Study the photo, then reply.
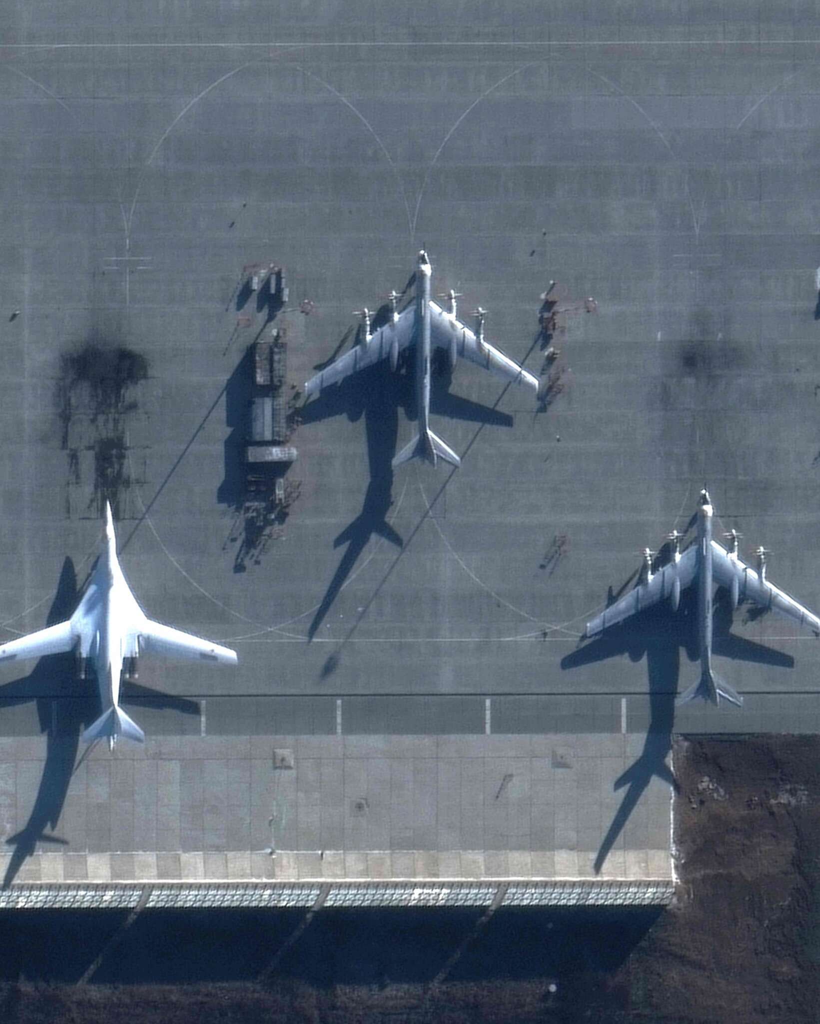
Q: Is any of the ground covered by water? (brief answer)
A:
No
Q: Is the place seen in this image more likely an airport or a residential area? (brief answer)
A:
airport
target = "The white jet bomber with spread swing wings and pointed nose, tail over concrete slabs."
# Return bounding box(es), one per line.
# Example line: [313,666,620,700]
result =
[0,500,237,750]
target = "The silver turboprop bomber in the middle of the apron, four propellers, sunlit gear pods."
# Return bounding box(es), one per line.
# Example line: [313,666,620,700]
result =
[305,249,539,470]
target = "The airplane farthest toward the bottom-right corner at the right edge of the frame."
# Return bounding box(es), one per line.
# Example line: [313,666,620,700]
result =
[588,482,820,714]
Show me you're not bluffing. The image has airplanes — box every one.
[305,249,539,470]
[588,482,820,714]
[0,500,237,750]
